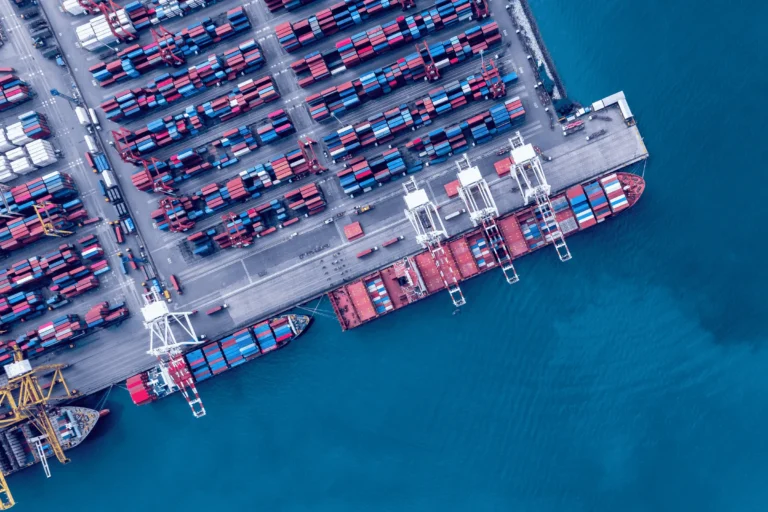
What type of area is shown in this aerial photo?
port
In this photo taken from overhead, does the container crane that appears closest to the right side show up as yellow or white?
white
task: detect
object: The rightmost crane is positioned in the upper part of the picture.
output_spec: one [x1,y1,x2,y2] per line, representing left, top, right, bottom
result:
[508,123,578,260]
